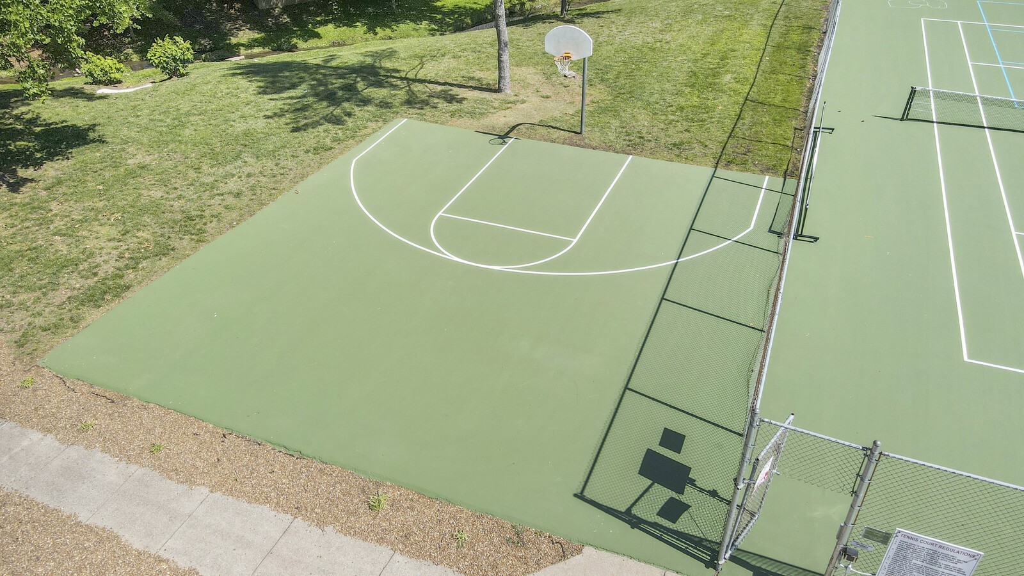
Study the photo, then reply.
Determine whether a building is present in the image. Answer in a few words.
No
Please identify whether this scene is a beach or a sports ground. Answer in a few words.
sports ground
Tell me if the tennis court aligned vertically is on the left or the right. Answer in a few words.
right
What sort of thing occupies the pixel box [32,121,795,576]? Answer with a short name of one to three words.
basketball court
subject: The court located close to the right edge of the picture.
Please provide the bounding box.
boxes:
[714,0,1024,576]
